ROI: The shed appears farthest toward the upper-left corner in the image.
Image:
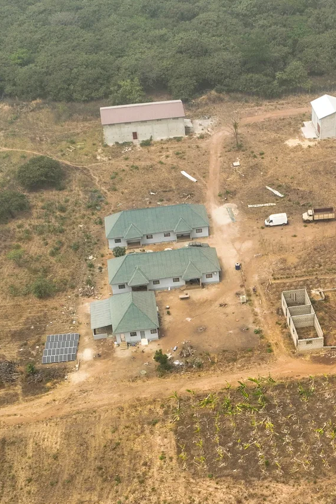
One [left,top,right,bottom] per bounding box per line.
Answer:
[100,99,194,144]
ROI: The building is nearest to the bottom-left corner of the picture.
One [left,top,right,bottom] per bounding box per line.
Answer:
[90,290,160,348]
